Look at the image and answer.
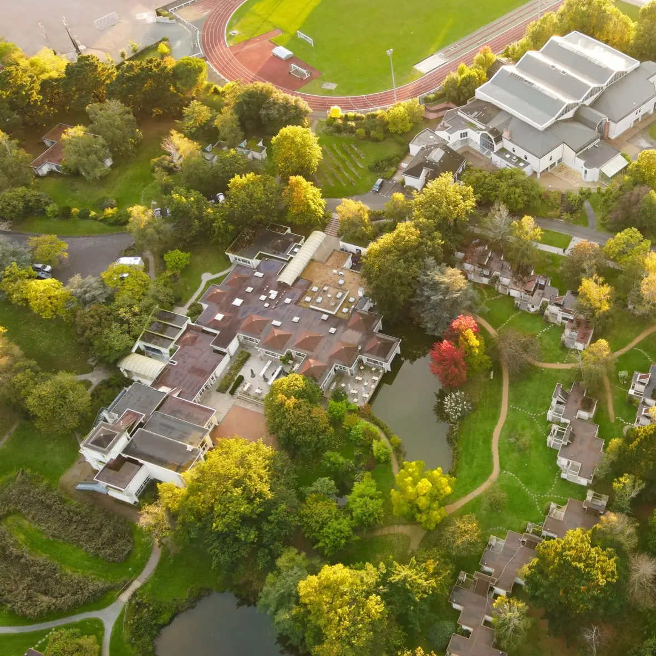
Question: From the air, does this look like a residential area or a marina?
residential area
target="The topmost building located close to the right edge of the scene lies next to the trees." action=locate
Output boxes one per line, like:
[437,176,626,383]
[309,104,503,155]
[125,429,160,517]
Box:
[402,29,656,188]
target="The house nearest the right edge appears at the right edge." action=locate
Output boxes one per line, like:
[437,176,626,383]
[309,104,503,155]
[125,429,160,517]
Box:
[627,365,656,421]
